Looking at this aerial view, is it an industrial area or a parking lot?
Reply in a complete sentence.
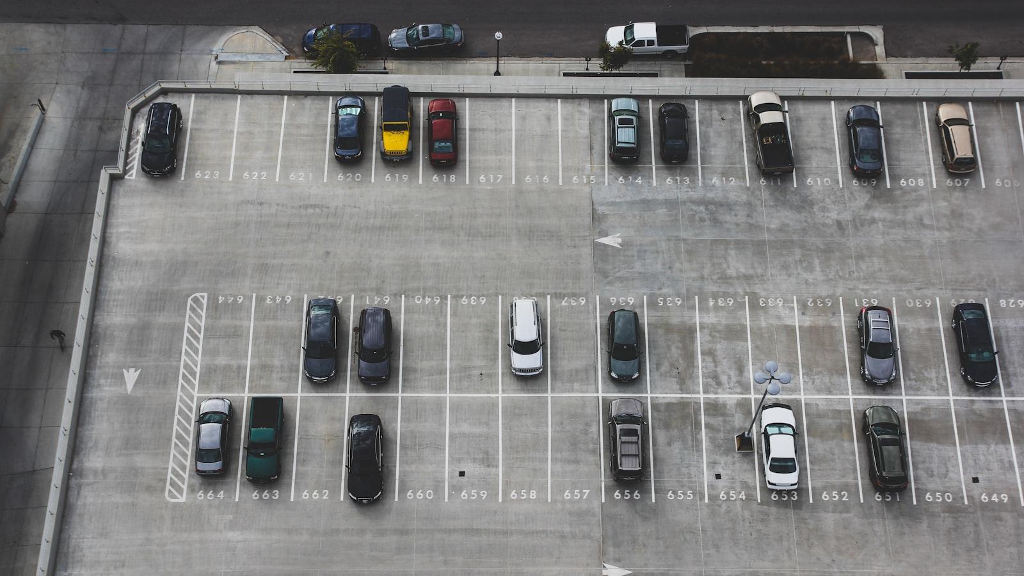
What you see here is a parking lot.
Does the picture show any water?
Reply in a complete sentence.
No, there is no water in the image.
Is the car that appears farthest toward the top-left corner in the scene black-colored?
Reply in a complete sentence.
Yes, the car that appears farthest toward the top-left corner appears black.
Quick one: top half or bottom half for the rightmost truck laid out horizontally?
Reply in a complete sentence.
The rightmost truck laid out horizontally sits in the top half of the picture.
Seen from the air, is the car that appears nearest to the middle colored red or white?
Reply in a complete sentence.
In this view, the car that appears nearest to the middle is white.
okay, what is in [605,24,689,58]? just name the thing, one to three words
truck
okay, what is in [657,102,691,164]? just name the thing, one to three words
car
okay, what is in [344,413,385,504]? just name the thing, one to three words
car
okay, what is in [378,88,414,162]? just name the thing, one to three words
vehicle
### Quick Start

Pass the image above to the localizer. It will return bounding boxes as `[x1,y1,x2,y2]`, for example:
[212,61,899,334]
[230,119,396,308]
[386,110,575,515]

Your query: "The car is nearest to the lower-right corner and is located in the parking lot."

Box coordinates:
[861,405,908,491]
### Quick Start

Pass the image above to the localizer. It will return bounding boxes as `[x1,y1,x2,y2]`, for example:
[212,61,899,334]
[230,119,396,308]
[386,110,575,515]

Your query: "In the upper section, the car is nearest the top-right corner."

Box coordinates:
[936,104,978,173]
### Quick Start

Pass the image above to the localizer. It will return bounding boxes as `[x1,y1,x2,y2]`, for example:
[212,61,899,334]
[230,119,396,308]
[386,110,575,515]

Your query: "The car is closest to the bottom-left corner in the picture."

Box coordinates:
[195,397,233,475]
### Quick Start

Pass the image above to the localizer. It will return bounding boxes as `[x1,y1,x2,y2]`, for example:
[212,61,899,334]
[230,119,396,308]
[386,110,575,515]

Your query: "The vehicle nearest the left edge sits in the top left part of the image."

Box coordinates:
[141,101,183,175]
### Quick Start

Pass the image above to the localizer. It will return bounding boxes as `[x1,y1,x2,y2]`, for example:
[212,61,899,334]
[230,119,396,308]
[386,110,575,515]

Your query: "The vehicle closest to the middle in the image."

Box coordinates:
[507,299,544,377]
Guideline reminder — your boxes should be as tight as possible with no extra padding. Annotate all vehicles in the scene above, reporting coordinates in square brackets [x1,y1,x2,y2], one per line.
[749,93,794,176]
[426,98,459,165]
[195,397,233,475]
[861,405,908,491]
[606,307,643,384]
[657,102,691,164]
[141,101,183,175]
[507,299,544,377]
[355,307,393,385]
[936,104,978,173]
[758,403,799,490]
[244,397,285,484]
[608,99,643,164]
[856,305,899,386]
[378,88,414,162]
[840,105,882,177]
[608,398,648,481]
[388,23,464,57]
[344,413,385,504]
[332,95,367,162]
[605,24,689,58]
[301,299,340,384]
[952,303,999,388]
